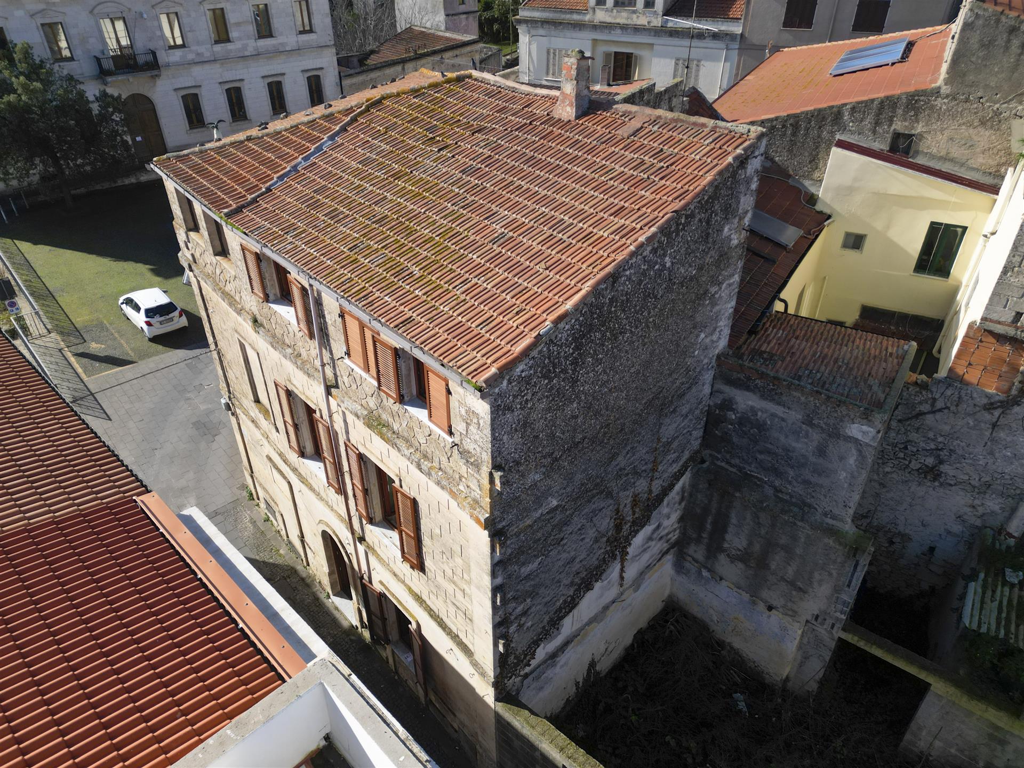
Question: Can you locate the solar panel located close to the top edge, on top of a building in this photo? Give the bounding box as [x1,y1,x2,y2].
[829,36,916,78]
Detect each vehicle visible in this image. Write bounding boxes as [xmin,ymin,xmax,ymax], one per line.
[113,273,189,330]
